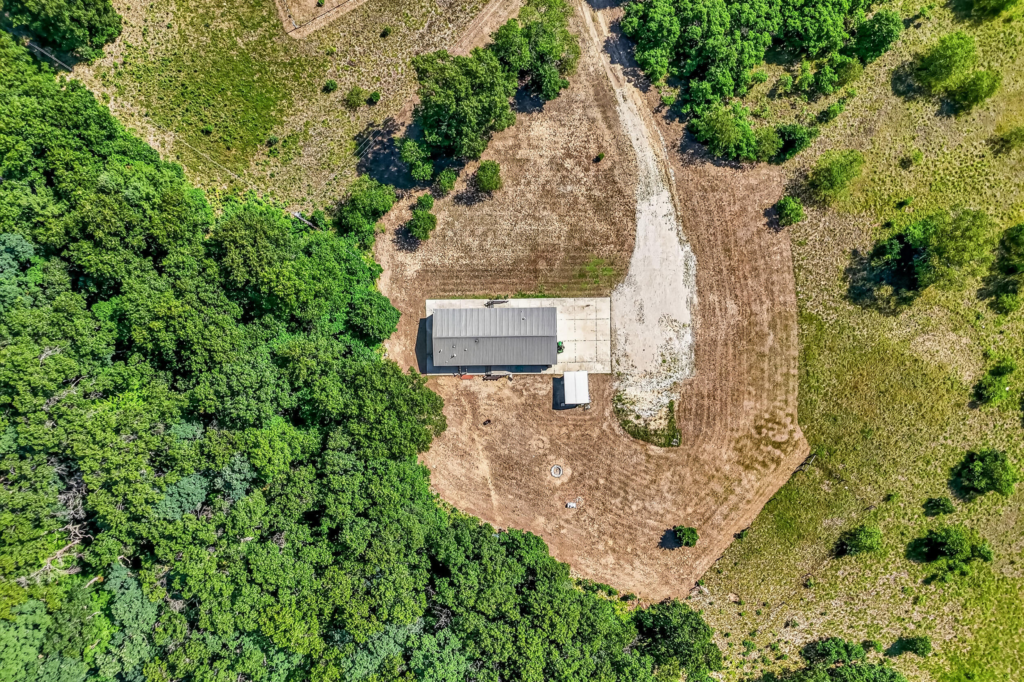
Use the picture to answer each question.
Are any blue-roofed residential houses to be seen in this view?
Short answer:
No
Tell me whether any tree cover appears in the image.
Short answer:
Yes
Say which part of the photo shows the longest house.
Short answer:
center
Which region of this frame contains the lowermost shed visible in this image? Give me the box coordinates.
[564,369,589,404]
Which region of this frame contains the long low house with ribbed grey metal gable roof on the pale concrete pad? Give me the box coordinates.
[432,307,557,367]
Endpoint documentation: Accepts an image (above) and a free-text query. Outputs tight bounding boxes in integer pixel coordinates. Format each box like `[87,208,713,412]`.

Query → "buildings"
[564,369,589,404]
[432,307,557,367]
